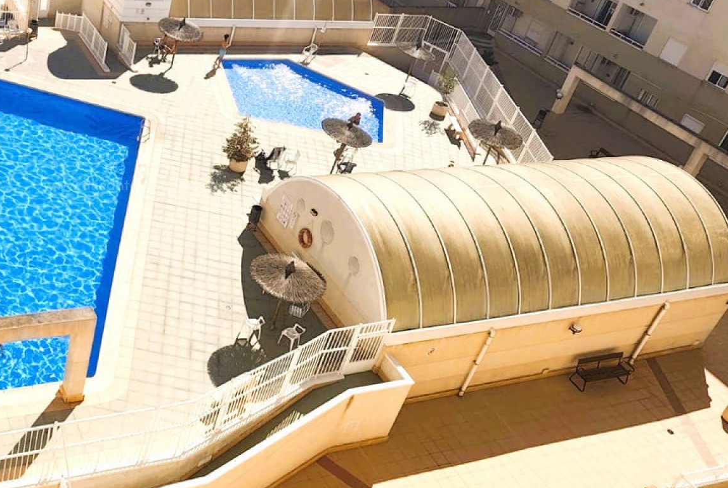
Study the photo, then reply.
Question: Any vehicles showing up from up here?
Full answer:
No, I can't see a single vehicle in this photo.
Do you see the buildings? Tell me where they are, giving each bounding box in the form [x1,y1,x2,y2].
[87,0,378,51]
[384,0,728,193]
[253,150,728,403]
